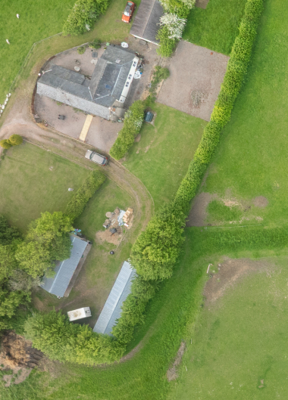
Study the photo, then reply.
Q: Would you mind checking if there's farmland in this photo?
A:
Yes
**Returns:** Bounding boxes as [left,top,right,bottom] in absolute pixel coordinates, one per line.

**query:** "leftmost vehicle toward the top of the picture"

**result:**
[85,149,109,166]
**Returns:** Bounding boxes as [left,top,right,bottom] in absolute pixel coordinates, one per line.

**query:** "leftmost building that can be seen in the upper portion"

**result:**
[38,45,140,121]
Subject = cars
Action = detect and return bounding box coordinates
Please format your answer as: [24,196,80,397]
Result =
[85,149,109,166]
[122,1,136,22]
